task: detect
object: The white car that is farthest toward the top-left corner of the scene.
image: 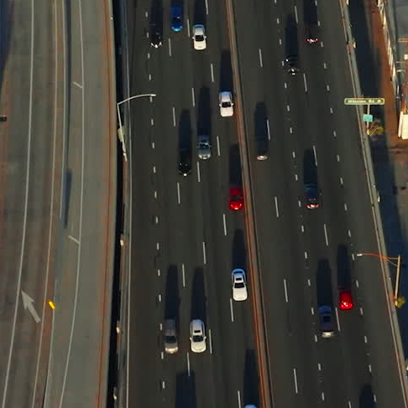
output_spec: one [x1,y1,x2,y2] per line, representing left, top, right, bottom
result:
[192,25,207,49]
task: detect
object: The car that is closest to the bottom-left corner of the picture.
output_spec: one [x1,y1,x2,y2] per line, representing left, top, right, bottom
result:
[162,320,180,352]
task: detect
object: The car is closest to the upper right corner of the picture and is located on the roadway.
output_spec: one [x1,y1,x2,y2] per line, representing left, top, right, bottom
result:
[304,21,320,43]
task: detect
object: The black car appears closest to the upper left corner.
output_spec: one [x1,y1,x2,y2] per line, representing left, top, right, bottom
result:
[149,23,164,47]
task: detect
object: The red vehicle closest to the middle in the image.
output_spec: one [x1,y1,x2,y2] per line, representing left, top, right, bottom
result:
[229,185,244,214]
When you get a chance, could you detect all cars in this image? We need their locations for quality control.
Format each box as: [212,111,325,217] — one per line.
[218,90,234,119]
[176,149,193,174]
[231,271,249,301]
[149,23,164,47]
[196,134,212,162]
[192,25,207,49]
[229,185,244,214]
[303,184,320,211]
[170,7,185,29]
[283,52,300,78]
[189,321,207,352]
[317,307,335,339]
[304,21,320,43]
[254,135,270,162]
[162,320,180,352]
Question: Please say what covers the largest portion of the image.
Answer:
paved ground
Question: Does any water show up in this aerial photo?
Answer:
No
